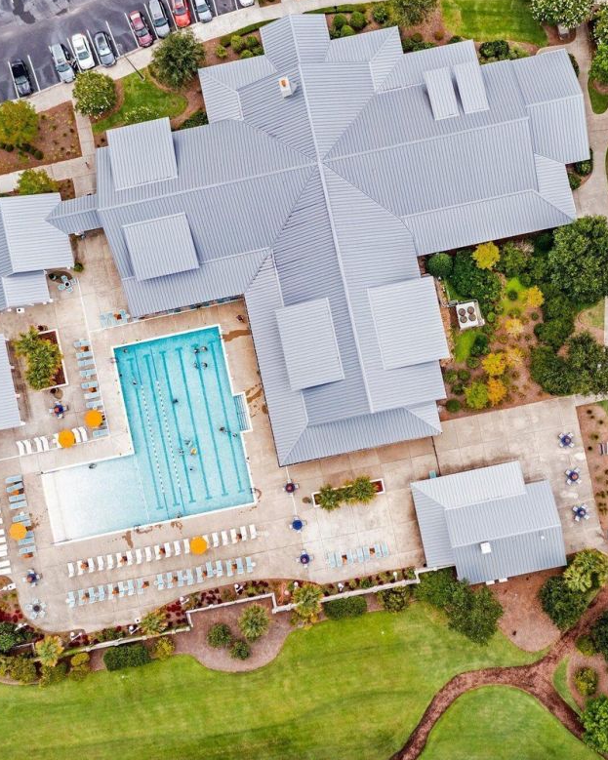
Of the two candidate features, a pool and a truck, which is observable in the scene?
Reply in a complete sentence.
There is a pool in the scene.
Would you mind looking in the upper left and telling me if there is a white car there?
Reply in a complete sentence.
Yes, a white car appears in the upper left.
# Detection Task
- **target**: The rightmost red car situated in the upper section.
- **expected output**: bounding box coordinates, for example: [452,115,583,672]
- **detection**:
[171,0,192,30]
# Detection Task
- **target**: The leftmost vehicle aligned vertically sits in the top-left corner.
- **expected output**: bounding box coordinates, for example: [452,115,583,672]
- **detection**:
[13,58,34,98]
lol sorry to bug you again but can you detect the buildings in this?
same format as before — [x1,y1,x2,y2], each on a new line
[0,334,23,428]
[410,461,566,583]
[96,14,590,467]
[0,192,102,310]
